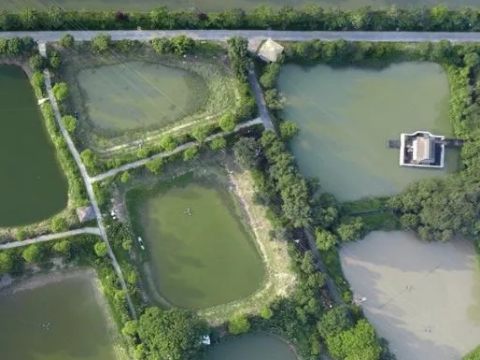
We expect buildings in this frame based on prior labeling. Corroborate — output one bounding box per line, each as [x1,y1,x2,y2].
[75,203,96,223]
[391,131,445,168]
[253,39,284,65]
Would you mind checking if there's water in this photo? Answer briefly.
Yes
